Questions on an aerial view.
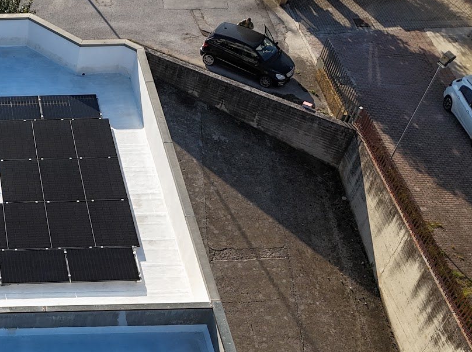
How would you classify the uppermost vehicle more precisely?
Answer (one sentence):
The uppermost vehicle is a car.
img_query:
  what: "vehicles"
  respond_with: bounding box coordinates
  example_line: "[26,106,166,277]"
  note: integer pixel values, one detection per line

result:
[445,80,472,137]
[197,20,297,89]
